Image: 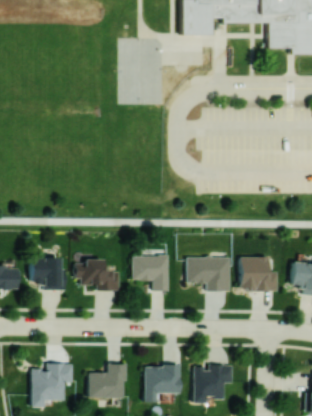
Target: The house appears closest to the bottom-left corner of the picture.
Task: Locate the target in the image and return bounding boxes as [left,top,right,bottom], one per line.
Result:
[30,364,74,408]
